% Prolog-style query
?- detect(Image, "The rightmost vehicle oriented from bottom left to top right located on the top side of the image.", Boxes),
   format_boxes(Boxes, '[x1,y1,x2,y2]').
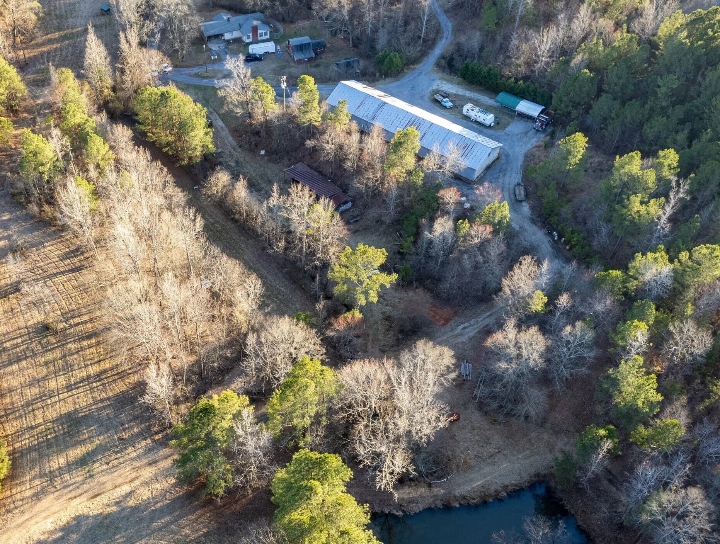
[531,108,561,132]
